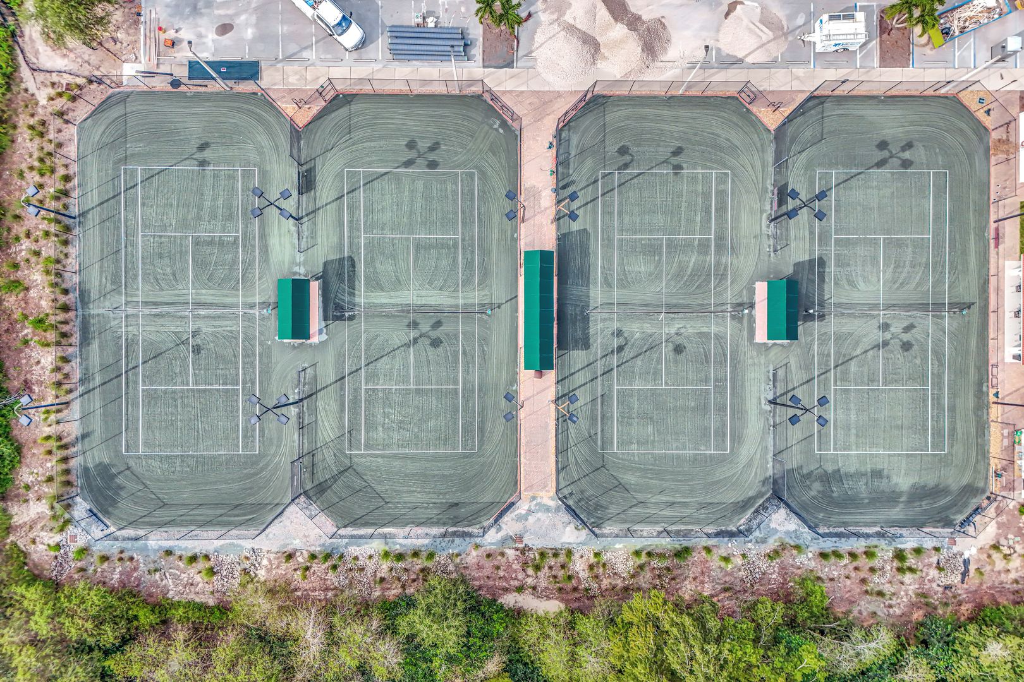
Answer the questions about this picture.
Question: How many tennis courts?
4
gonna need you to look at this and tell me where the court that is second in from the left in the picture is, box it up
[300,92,522,530]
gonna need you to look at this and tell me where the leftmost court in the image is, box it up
[76,90,300,530]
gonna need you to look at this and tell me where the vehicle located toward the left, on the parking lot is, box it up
[293,0,363,50]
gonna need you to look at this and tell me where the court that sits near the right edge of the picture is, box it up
[773,93,992,528]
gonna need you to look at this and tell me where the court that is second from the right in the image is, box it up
[555,93,775,529]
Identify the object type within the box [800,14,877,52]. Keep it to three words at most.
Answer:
trailer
